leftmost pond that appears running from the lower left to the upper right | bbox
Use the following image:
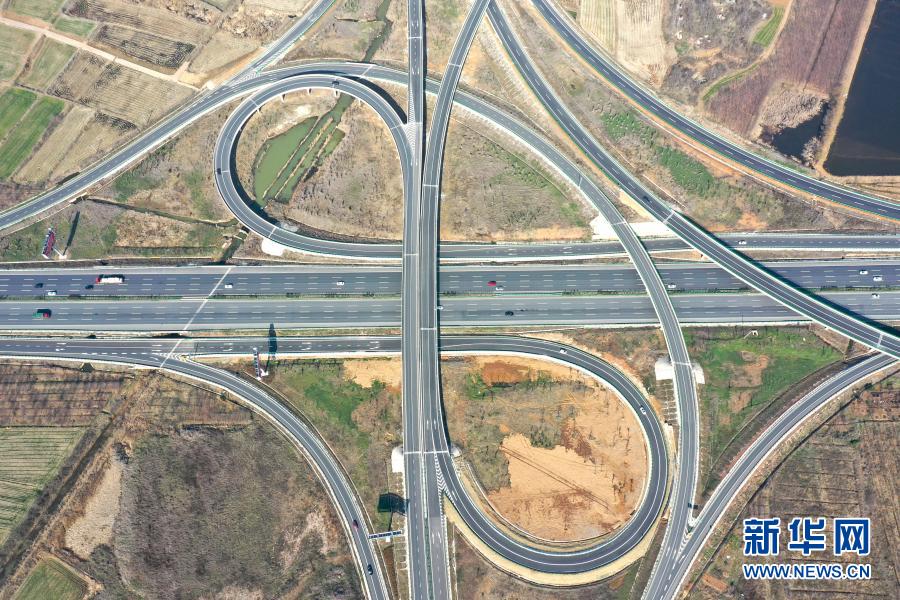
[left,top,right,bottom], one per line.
[250,91,356,206]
